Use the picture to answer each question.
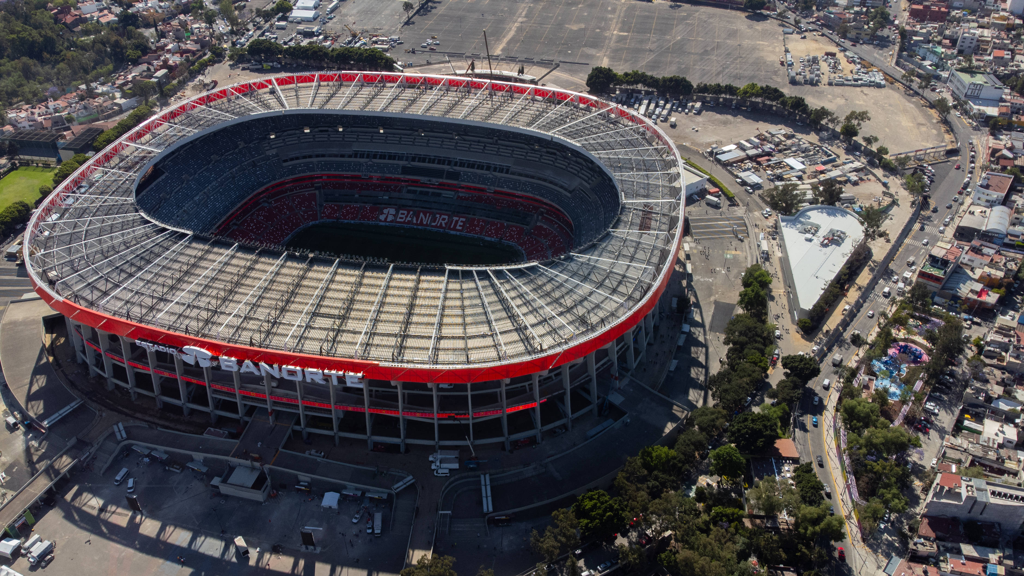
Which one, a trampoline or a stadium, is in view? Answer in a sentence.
The one in the frame is a stadium.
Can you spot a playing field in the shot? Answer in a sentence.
Yes, the image includes a playing field.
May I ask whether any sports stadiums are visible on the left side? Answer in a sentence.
Yes, I can see a sports stadium on the left side.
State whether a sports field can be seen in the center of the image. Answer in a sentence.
Yes, a sports field can be seen in the center of the image.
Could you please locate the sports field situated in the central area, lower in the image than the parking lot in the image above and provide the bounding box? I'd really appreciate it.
[277,222,533,270]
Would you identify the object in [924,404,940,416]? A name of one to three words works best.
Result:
vehicle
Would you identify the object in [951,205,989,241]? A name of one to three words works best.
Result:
building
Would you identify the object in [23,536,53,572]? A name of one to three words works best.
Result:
truck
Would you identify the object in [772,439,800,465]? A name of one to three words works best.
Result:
house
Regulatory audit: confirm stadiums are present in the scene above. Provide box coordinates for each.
[19,69,685,454]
